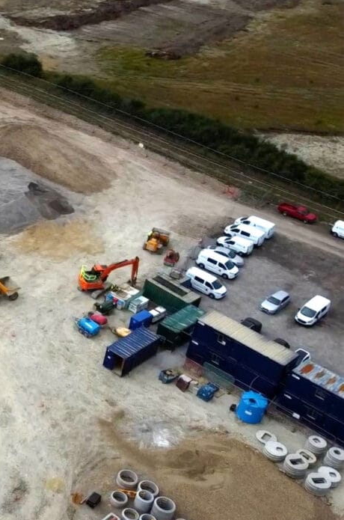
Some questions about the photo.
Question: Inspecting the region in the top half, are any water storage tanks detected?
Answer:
No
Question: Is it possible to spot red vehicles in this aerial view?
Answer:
Yes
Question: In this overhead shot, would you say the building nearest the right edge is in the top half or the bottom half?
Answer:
bottom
